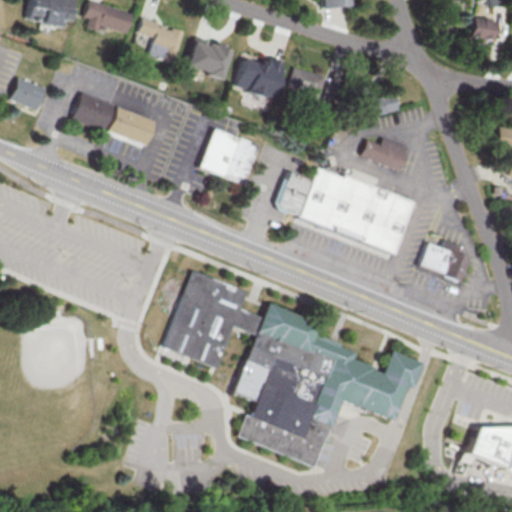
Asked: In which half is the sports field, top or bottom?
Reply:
bottom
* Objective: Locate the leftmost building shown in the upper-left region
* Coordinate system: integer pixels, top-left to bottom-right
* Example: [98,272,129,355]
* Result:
[10,78,46,112]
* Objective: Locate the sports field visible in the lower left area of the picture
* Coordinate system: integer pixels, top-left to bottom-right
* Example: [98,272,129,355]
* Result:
[2,315,96,450]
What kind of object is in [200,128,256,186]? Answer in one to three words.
building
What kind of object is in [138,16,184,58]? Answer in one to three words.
house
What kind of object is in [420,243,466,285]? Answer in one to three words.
building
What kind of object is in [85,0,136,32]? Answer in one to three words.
house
